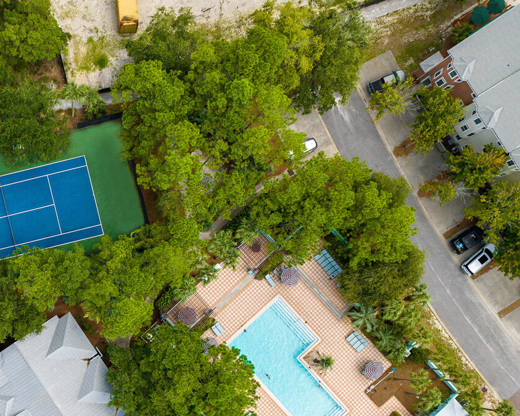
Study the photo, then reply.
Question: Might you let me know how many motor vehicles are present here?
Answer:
4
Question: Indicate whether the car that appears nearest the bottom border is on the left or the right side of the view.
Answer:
right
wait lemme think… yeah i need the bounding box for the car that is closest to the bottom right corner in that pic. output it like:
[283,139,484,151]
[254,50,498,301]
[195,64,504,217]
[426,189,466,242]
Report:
[458,246,495,274]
